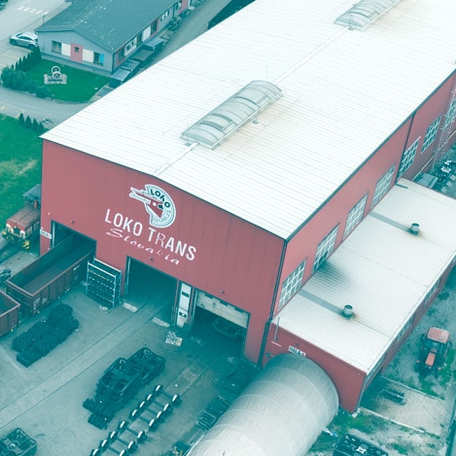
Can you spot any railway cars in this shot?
Yes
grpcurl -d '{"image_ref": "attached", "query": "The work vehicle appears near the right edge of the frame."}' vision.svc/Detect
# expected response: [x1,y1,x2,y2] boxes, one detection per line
[412,327,455,365]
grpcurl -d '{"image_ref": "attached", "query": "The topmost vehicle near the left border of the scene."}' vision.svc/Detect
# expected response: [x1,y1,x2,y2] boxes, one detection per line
[11,33,40,49]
